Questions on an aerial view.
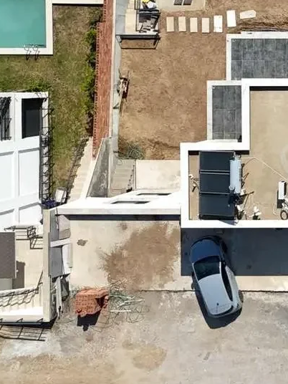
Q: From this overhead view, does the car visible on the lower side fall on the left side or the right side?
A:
right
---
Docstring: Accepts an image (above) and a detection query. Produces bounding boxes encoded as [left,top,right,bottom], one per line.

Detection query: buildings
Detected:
[0,92,52,216]
[180,32,288,228]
